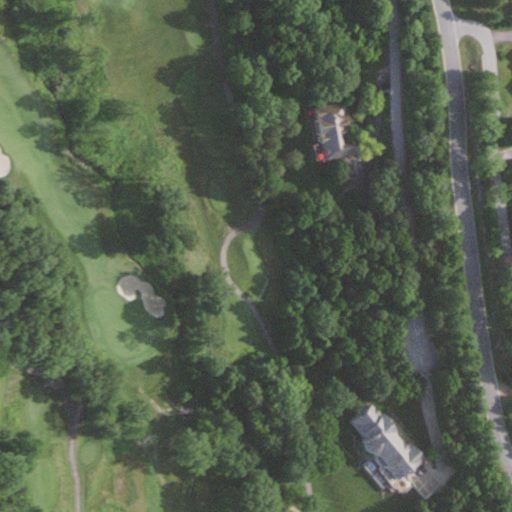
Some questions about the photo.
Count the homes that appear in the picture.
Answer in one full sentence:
In total, 2 homes can be seen.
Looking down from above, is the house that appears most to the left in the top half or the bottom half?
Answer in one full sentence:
The house that appears most to the left is in the top half of the image.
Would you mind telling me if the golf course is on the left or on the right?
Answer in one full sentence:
The golf course sits on the left side.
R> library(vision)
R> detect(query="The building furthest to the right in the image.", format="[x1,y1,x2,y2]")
[352,405,430,481]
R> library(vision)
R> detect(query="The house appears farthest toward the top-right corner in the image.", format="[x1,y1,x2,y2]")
[318,106,352,154]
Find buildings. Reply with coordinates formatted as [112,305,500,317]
[352,405,430,481]
[318,106,352,154]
